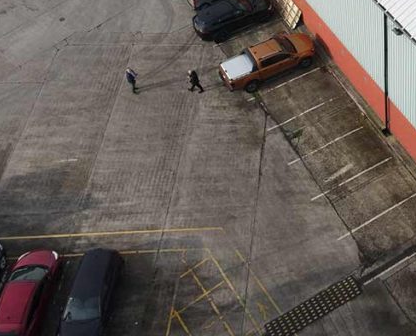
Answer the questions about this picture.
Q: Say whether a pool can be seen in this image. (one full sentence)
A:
No, there appears to be no pool in this shot.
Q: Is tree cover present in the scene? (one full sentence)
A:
No, the scene doesn't show any tree cover.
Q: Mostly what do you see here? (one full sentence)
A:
The largest share of the image is taken up by paved ground.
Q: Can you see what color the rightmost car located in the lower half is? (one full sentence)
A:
In this view, the rightmost car located in the lower half is black.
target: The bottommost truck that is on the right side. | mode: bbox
[219,30,316,95]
